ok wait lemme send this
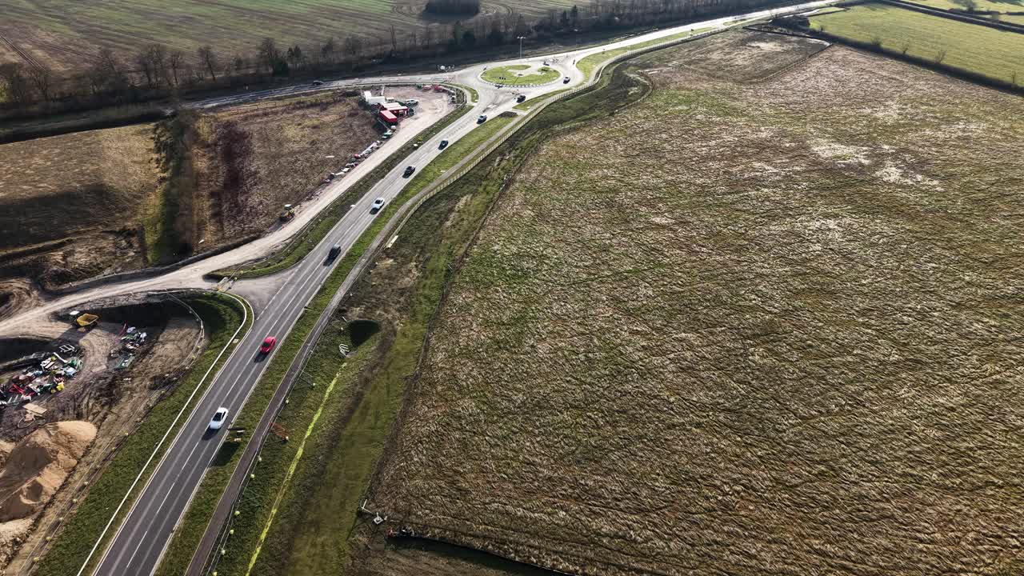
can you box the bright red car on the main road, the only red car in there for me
[259,337,275,353]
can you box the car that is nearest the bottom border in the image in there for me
[207,408,228,430]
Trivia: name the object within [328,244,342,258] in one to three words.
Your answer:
car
